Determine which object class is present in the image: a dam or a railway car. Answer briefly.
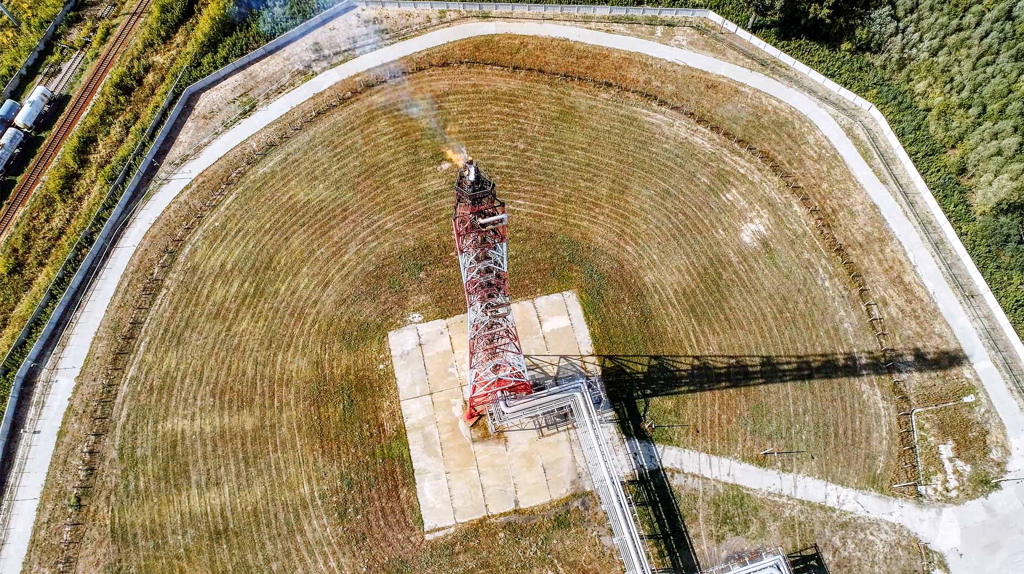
railway car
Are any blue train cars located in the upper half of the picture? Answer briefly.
Yes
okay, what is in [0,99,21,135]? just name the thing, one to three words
rail car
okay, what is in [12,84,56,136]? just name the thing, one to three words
rail car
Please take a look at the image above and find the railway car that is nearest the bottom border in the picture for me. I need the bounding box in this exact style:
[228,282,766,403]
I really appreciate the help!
[0,128,28,177]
